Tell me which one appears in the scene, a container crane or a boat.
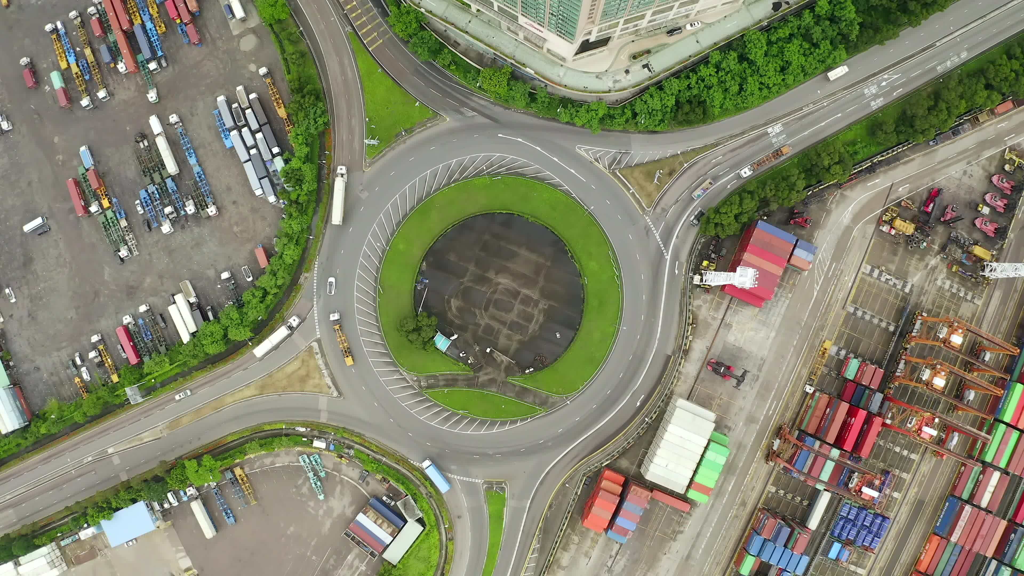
container crane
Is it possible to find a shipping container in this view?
Yes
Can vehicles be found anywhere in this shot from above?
Yes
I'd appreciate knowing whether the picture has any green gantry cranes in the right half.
No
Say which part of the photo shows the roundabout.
center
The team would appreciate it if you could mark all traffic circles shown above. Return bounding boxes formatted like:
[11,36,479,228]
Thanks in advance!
[341,143,645,447]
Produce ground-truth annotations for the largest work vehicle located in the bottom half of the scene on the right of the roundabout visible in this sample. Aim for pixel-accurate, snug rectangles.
[707,359,757,394]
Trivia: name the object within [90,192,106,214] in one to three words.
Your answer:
vehicle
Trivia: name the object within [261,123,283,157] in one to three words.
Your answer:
truck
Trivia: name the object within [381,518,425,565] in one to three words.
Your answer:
shed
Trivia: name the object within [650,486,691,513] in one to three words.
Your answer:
shipping container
